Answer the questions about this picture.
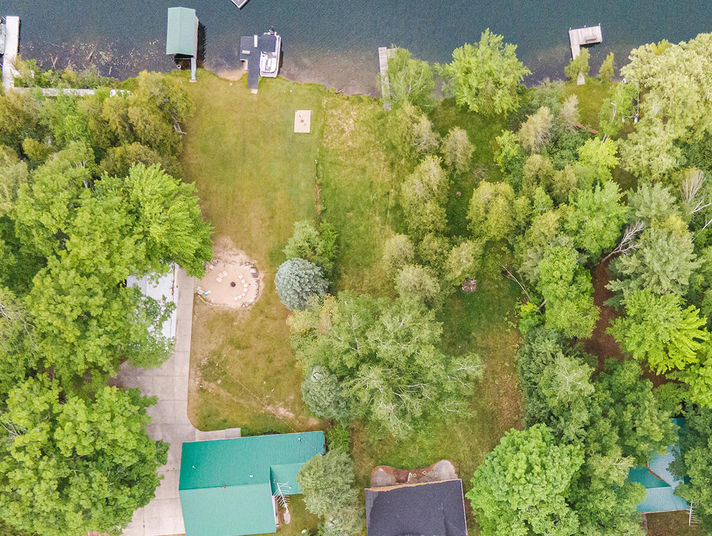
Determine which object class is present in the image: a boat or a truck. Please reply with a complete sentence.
Visible in the photo is a boat.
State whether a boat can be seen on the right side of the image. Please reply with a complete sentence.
No, the scene shows no boat on the right side of the image.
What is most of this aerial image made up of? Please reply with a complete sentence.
The bulk of the photo consists of trees.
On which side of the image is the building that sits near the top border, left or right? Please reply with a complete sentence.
You can find the building that sits near the top border on the left side of the picture.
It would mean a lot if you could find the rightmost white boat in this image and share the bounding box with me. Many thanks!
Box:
[258,27,282,80]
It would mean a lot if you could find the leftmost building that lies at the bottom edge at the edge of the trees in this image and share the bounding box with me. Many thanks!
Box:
[179,431,330,536]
